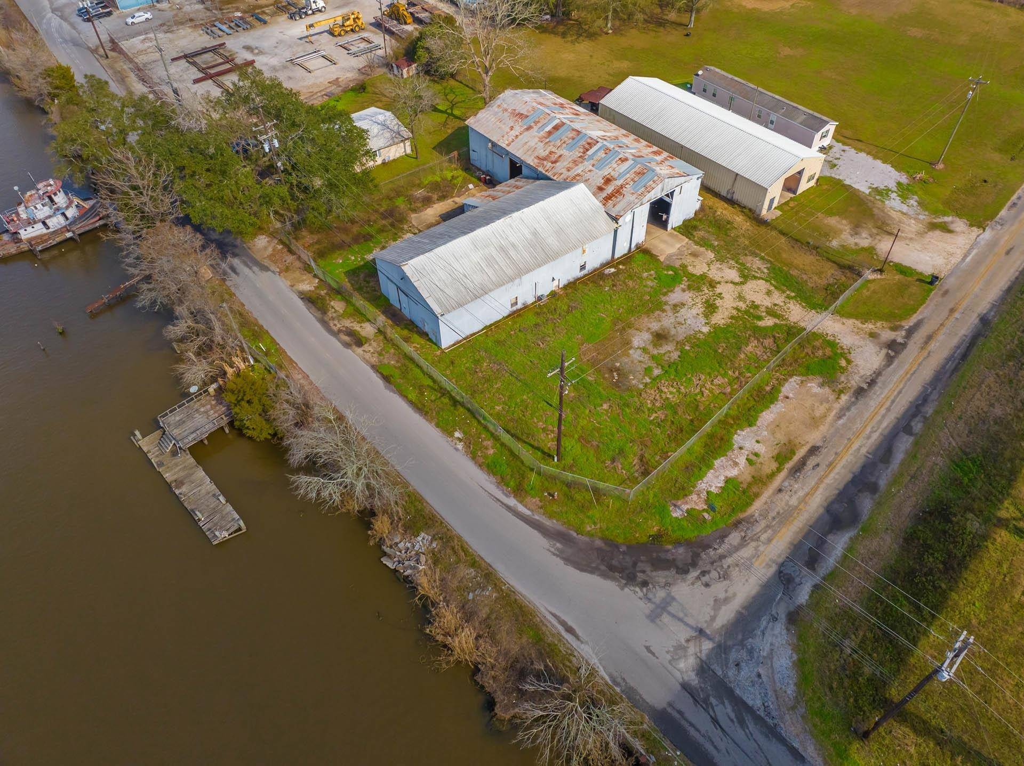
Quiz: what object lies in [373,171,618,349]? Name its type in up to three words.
warehouse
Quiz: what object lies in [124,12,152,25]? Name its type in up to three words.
vehicle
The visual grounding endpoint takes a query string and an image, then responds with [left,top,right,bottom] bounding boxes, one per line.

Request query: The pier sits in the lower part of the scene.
[131,424,249,547]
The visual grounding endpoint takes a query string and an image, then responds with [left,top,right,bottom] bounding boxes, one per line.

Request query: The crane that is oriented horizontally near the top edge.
[296,7,368,43]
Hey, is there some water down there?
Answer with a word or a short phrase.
Yes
